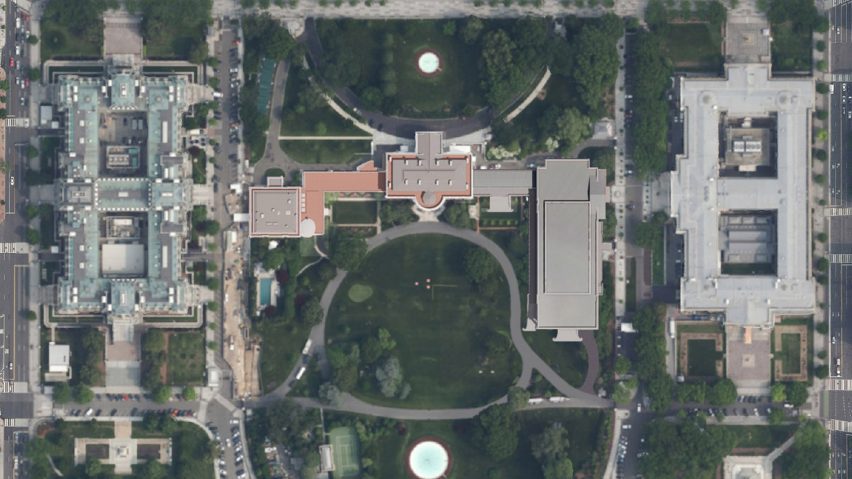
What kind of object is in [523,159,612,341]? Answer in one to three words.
building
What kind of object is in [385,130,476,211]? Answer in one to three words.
house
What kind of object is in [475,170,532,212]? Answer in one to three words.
building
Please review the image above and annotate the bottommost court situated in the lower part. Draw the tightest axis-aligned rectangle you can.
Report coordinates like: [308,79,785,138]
[331,427,360,479]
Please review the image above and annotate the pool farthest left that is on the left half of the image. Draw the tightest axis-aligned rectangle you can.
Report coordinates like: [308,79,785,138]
[255,264,277,305]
